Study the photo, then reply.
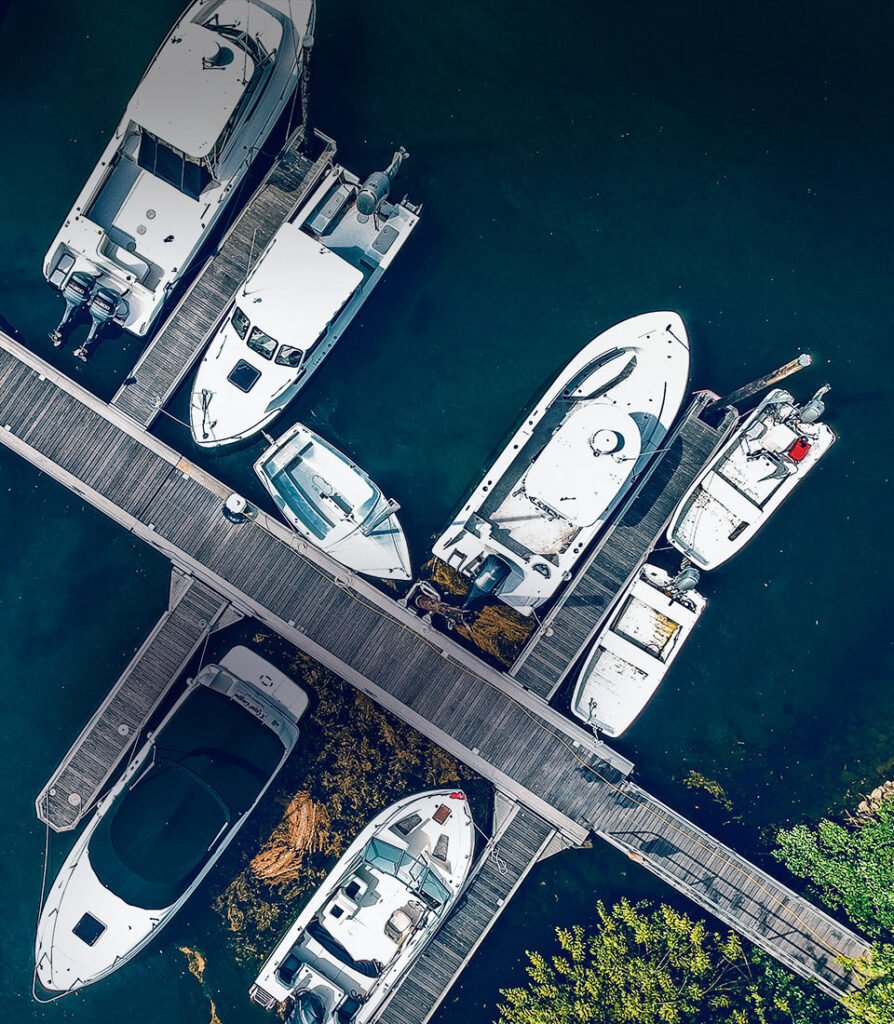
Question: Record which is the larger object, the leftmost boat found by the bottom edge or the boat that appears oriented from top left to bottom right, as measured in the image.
the leftmost boat found by the bottom edge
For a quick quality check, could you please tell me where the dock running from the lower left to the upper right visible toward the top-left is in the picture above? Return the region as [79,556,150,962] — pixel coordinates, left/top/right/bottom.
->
[110,122,341,431]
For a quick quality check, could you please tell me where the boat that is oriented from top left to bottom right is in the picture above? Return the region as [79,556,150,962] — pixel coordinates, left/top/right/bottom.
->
[253,422,412,581]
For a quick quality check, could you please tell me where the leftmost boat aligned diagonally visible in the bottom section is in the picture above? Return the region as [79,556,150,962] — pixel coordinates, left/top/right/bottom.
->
[32,645,308,1004]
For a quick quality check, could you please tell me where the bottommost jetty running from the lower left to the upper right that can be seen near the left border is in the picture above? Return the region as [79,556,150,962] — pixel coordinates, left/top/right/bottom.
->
[37,562,249,829]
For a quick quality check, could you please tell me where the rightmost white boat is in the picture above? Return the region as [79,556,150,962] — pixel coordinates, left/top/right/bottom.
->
[663,381,838,571]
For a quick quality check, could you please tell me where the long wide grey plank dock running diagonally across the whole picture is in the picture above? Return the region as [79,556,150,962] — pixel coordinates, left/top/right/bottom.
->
[0,331,635,833]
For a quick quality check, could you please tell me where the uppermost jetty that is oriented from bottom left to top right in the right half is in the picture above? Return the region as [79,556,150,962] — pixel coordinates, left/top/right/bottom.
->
[508,387,746,702]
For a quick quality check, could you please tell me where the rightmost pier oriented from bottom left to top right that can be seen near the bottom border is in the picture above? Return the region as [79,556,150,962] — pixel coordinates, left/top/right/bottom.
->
[374,785,577,1024]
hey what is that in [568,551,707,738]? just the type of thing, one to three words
boat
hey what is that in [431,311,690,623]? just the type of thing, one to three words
boat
